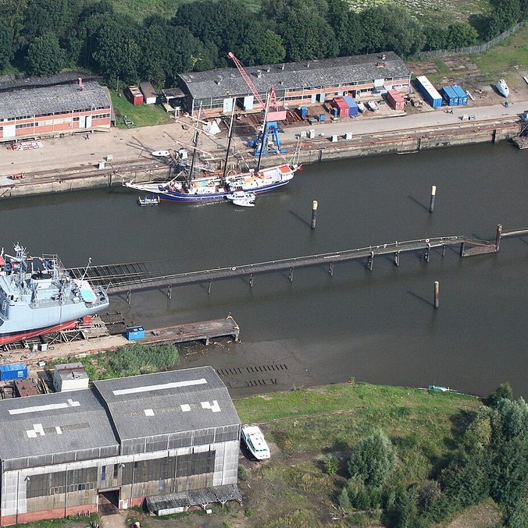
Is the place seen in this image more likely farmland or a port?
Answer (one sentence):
This image shows a port.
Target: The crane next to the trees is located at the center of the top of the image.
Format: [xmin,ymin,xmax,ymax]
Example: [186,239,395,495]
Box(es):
[226,50,288,155]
